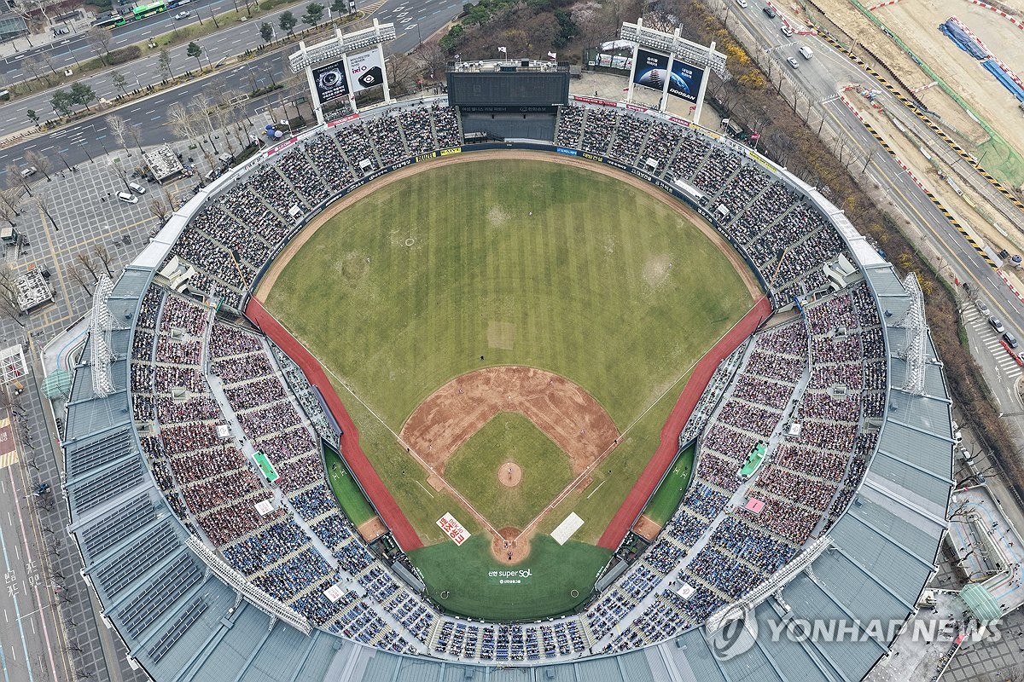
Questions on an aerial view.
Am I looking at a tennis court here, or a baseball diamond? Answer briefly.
baseball diamond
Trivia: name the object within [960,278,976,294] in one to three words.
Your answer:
car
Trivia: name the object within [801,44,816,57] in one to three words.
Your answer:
vehicle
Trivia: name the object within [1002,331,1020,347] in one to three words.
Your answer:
car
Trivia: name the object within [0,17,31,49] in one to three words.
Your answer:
building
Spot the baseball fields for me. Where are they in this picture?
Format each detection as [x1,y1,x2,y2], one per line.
[247,149,772,621]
